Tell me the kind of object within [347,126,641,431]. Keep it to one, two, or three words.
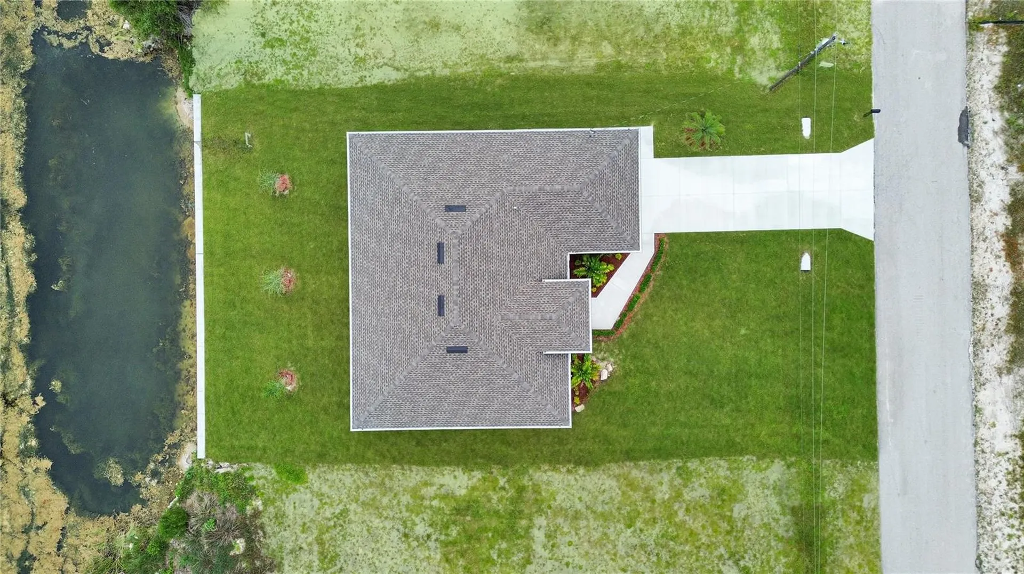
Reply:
house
